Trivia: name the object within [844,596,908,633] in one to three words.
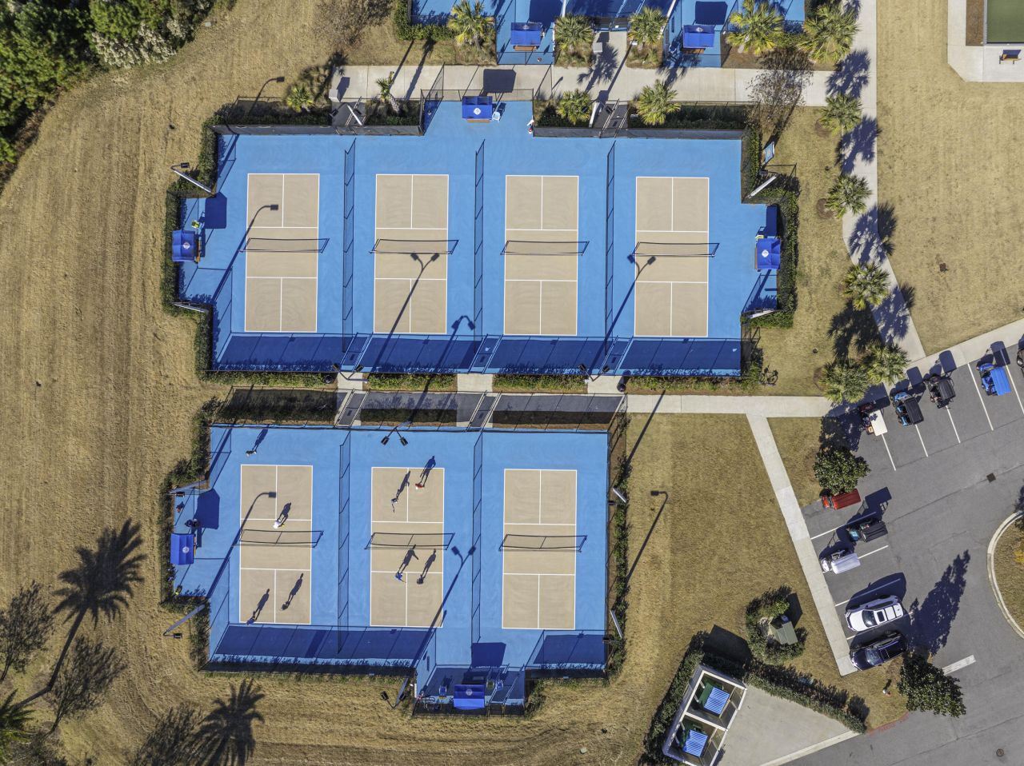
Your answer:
car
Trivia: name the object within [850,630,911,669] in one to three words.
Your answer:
car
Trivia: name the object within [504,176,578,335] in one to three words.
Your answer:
sports court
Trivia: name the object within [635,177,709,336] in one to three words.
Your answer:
sports court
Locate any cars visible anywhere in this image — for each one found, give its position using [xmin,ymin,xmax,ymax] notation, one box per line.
[844,596,908,633]
[850,630,911,669]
